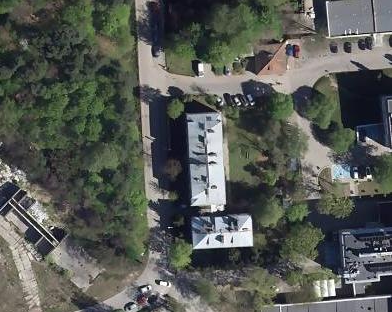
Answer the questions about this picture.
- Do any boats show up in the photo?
No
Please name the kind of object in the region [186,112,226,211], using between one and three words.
house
